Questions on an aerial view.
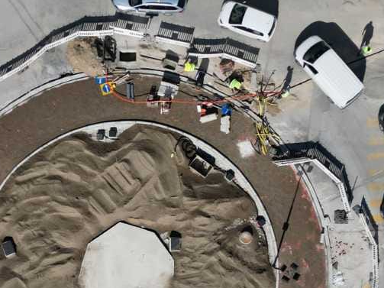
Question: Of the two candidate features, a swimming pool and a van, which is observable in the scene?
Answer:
van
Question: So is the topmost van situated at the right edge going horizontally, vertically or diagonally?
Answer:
diagonally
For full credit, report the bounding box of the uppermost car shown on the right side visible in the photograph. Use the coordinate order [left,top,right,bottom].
[216,0,279,42]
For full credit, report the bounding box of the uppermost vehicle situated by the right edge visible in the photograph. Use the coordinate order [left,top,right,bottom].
[295,31,366,110]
